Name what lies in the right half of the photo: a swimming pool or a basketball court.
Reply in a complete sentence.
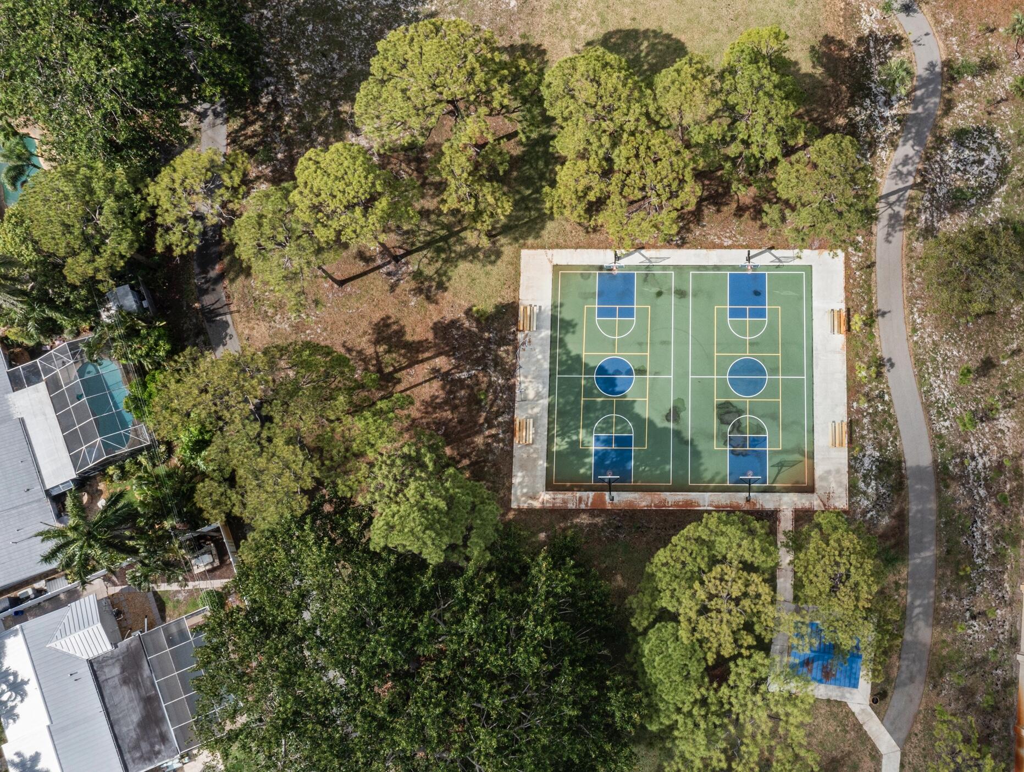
There is a basketball court in the right half of the photo.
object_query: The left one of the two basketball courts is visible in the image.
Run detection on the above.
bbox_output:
[545,264,682,492]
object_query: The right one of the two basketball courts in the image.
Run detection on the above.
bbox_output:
[680,265,815,493]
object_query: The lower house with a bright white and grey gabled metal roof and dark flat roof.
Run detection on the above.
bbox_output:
[0,593,190,772]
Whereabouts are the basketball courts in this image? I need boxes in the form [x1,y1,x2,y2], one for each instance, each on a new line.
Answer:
[545,264,682,492]
[680,265,815,493]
